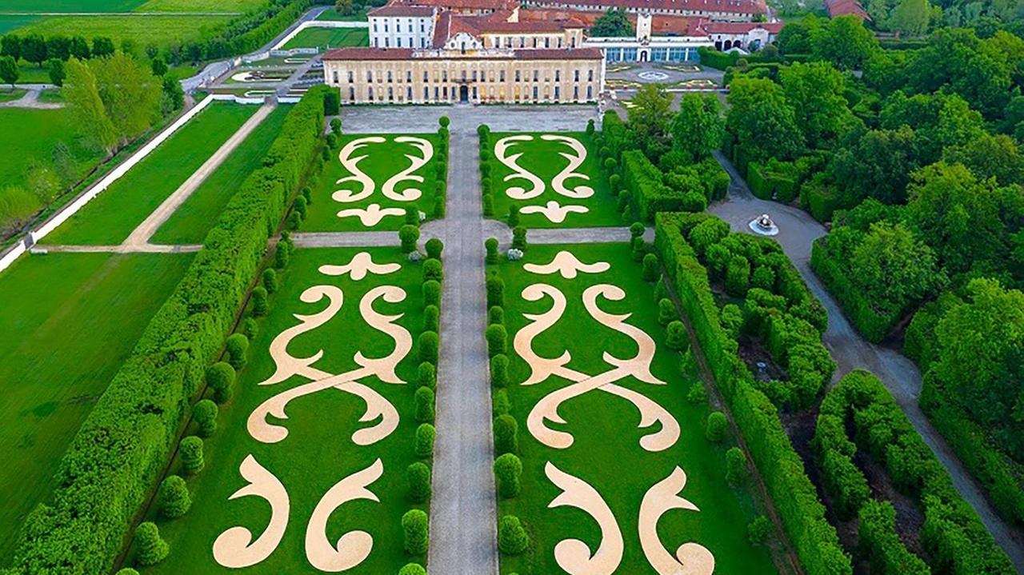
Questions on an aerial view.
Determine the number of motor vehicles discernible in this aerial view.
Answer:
0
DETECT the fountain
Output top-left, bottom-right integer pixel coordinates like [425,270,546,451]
[748,212,780,233]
